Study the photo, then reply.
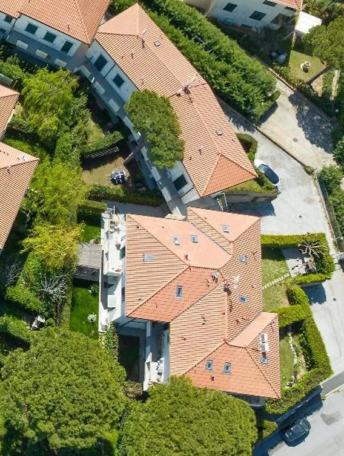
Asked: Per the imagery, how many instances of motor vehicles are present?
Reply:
2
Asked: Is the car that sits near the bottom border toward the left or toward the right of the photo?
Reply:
right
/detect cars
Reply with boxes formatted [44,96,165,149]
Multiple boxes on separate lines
[252,159,285,192]
[276,419,313,446]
